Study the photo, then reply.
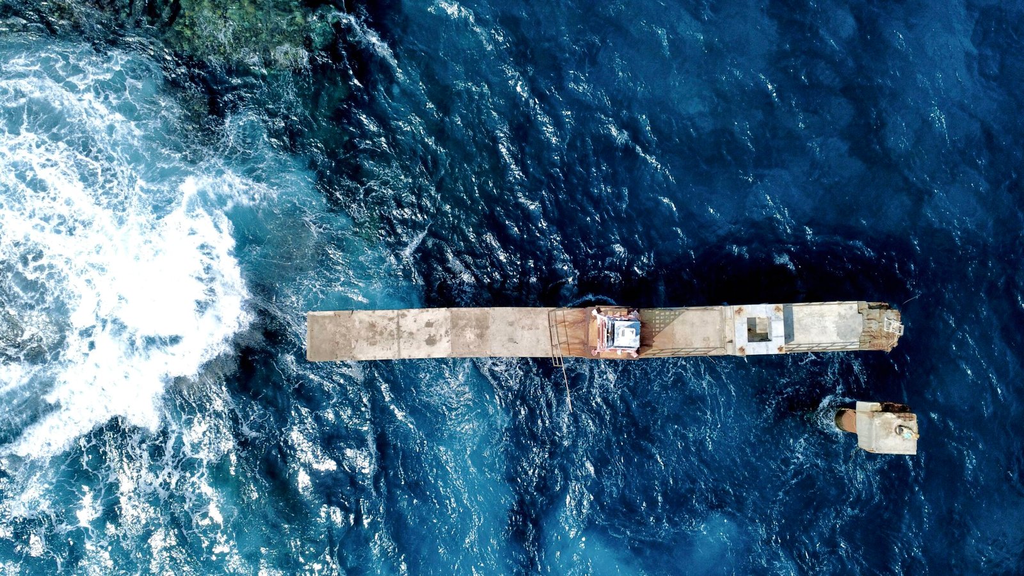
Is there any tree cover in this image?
No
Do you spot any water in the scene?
Yes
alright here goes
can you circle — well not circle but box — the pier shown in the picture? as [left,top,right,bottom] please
[308,301,901,361]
